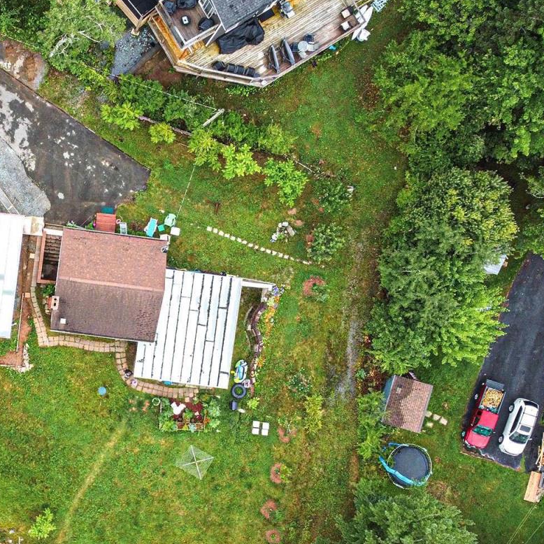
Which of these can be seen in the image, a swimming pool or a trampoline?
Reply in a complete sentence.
Of the two, only a trampoline appears.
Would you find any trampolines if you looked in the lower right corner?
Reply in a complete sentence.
Yes, a trampoline shows up in the lower right corner.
